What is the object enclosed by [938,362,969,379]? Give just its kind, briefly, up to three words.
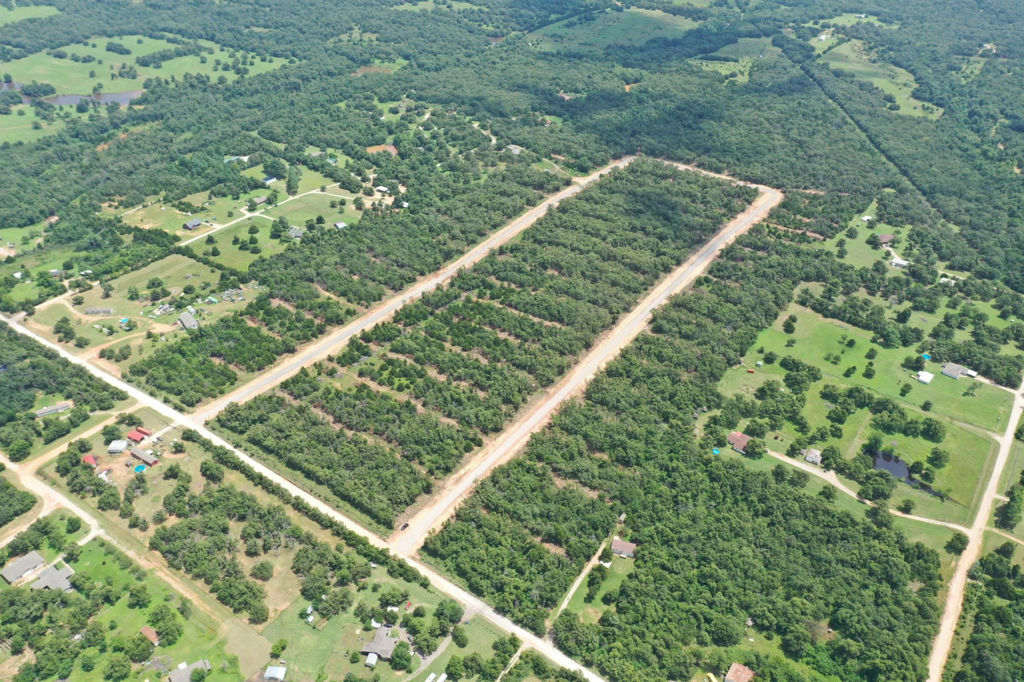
house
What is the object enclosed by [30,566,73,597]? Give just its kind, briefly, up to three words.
house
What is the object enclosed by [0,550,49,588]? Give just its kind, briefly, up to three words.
building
